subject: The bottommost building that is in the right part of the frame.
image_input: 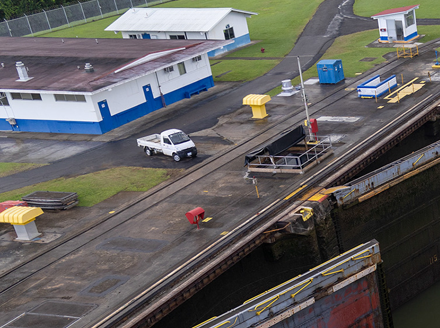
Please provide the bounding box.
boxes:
[315,58,350,83]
